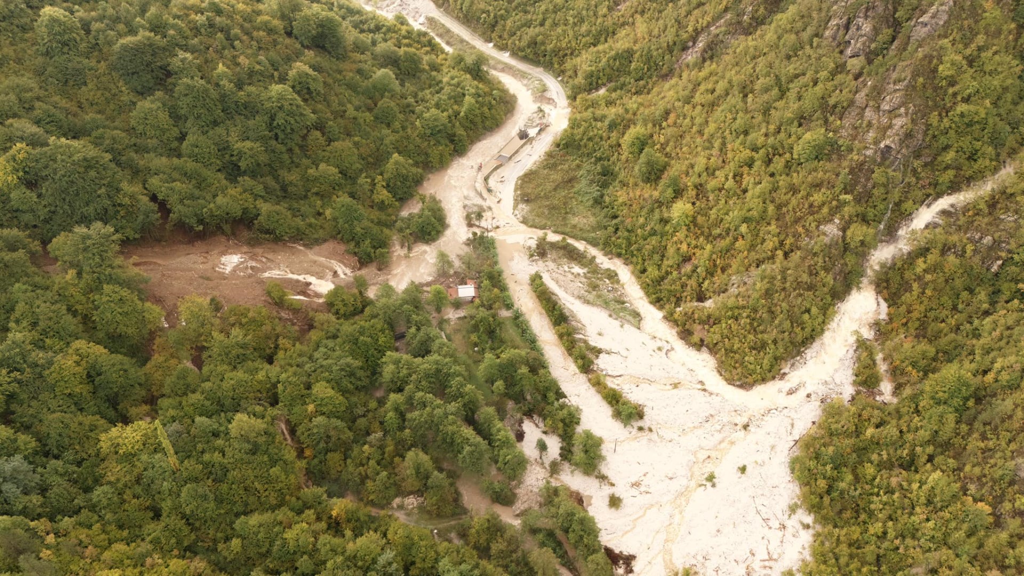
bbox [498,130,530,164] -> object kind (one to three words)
building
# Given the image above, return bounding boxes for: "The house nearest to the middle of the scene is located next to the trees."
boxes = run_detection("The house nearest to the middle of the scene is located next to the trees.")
[446,278,478,300]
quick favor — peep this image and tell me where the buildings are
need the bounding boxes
[446,278,478,300]
[498,130,530,164]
